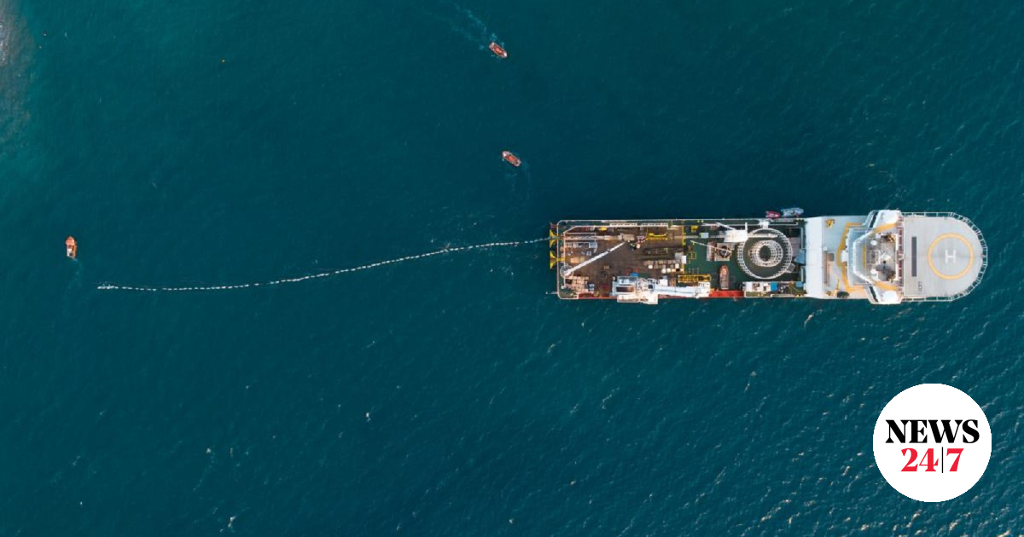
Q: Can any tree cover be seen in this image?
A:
No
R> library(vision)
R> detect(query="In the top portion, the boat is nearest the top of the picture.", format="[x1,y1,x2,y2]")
[488,40,507,57]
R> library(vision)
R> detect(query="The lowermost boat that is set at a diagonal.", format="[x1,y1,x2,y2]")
[503,151,522,167]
